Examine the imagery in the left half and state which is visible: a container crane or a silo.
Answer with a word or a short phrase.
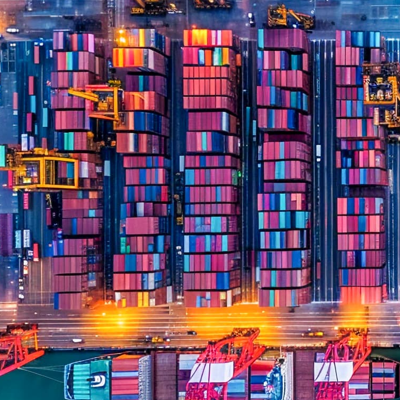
container crane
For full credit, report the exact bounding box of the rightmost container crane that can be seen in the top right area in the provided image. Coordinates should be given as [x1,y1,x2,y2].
[364,66,400,141]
